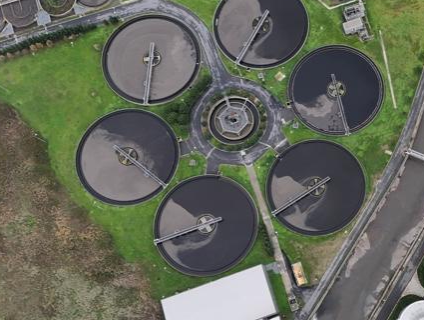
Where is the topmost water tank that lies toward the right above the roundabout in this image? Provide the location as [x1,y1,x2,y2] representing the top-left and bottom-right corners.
[213,0,309,69]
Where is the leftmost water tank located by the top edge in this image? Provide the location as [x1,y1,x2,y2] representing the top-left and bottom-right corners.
[102,14,201,107]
